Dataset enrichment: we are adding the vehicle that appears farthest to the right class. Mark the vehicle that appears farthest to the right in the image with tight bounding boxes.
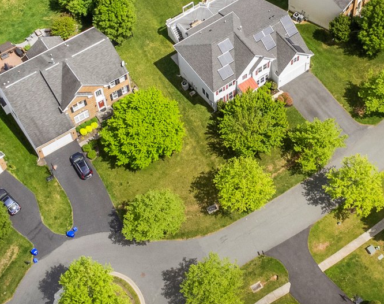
[71,150,95,183]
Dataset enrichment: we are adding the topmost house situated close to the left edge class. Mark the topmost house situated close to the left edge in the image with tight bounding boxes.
[0,27,133,158]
